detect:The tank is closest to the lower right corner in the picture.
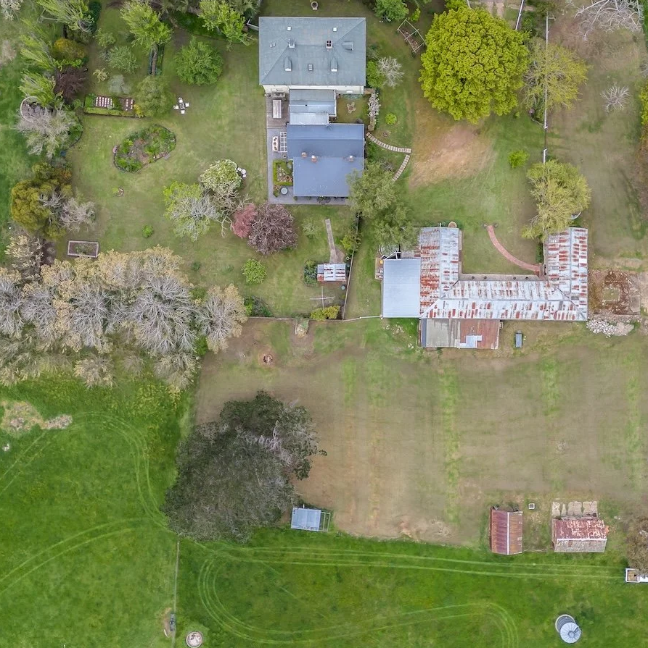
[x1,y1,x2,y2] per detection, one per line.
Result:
[554,614,579,642]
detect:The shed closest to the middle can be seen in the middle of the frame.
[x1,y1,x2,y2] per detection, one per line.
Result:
[318,263,346,281]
